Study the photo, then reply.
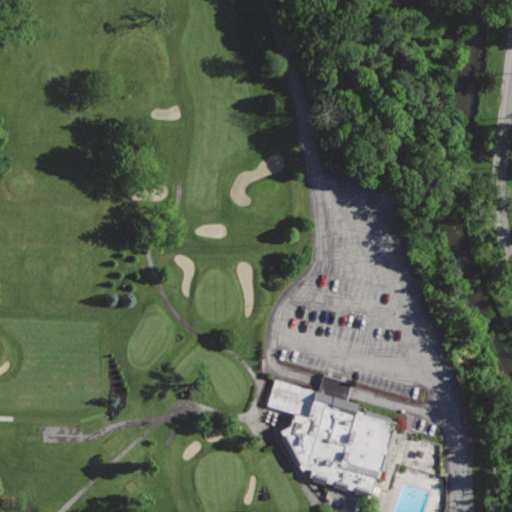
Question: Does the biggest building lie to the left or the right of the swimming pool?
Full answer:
Relative to the swimming pool, the biggest building is on the left.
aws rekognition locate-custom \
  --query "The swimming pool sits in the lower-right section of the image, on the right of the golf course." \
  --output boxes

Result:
[394,483,430,512]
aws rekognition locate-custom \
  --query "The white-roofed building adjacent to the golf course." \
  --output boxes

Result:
[266,378,394,496]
